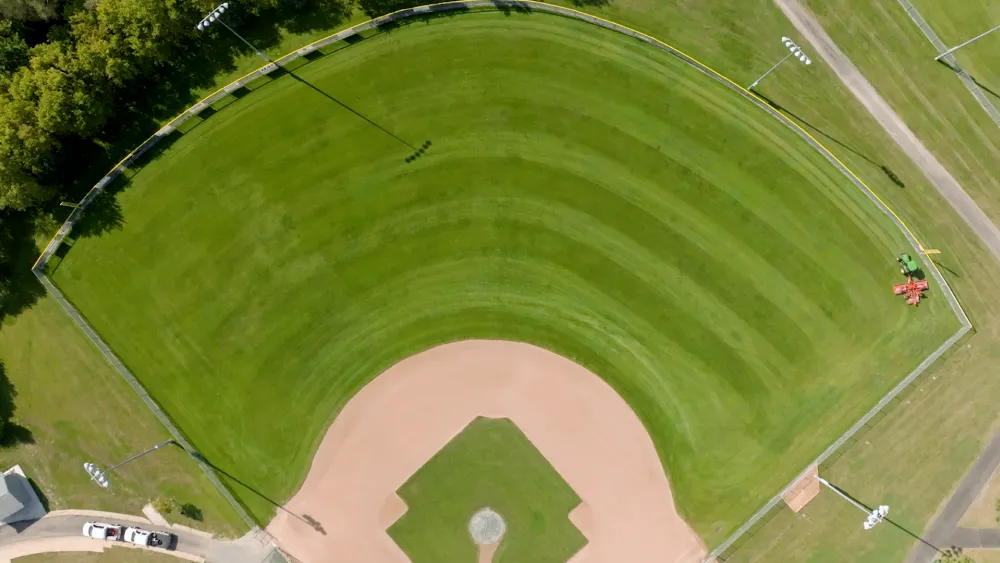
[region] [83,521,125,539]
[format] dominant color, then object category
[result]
white vehicle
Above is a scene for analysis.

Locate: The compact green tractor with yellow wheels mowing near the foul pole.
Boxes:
[896,254,918,274]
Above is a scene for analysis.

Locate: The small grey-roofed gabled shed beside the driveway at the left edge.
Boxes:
[0,472,31,521]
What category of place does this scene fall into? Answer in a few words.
sports ground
